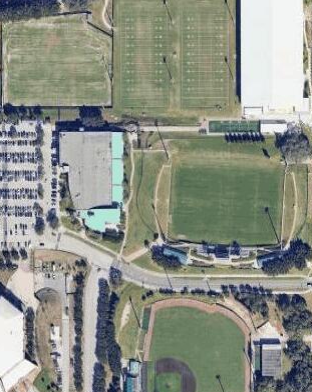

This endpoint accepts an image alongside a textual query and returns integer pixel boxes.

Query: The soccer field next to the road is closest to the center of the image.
[163,140,284,245]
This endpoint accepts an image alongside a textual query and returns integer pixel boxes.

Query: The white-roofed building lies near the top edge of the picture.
[240,0,302,112]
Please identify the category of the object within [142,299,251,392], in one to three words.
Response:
baseball field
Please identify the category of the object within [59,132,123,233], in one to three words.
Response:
building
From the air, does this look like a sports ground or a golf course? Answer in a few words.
sports ground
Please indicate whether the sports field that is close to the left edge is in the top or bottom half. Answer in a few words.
top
